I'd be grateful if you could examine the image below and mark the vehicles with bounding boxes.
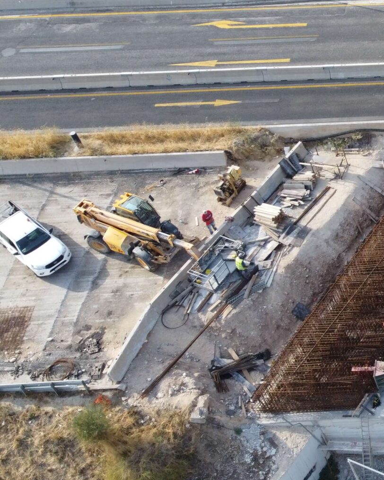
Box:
[0,202,69,280]
[66,193,213,275]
